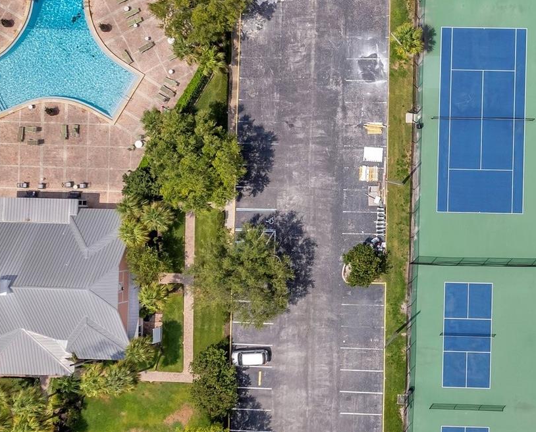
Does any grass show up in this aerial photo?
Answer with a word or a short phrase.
Yes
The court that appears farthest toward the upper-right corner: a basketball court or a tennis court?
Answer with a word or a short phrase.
tennis court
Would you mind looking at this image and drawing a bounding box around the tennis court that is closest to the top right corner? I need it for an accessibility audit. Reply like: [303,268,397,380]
[431,26,533,213]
